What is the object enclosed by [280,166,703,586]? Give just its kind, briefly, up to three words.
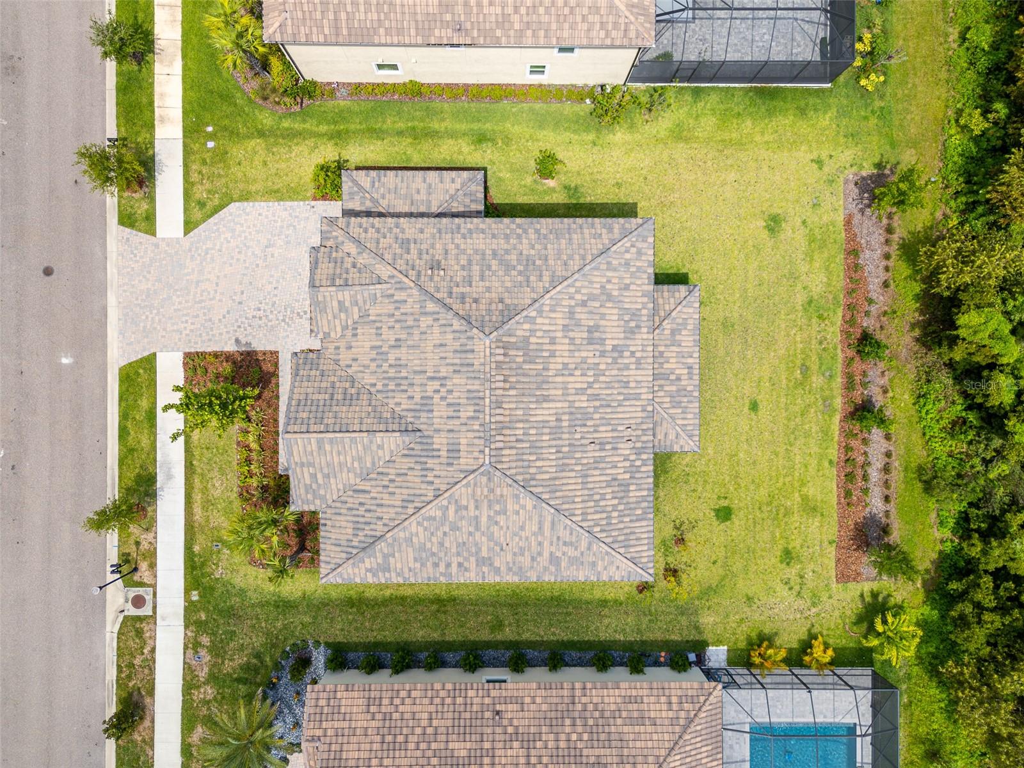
house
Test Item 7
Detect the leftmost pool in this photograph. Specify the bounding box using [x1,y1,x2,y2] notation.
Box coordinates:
[656,0,698,23]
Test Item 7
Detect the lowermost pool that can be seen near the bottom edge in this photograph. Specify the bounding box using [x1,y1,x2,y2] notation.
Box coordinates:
[745,719,862,768]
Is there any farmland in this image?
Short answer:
No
